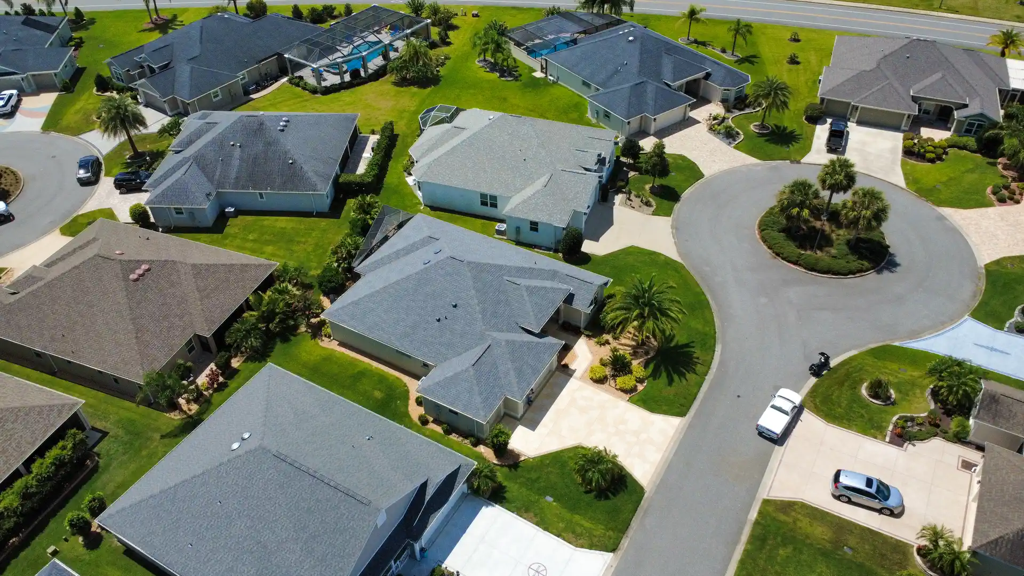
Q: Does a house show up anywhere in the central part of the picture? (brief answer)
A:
Yes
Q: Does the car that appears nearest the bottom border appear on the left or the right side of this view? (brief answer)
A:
right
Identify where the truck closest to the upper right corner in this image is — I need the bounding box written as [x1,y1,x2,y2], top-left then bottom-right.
[825,119,850,149]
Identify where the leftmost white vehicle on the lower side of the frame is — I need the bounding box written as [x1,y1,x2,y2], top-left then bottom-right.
[756,385,806,447]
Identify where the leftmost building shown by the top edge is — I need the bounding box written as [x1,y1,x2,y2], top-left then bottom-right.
[0,14,87,96]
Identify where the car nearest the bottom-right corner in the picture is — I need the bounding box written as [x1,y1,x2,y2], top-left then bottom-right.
[831,464,904,514]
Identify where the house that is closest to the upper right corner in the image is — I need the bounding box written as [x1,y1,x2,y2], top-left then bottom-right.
[818,35,1024,142]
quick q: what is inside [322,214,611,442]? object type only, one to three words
house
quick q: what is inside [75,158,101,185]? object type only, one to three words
car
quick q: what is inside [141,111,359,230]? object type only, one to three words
house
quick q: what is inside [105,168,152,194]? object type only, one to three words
car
